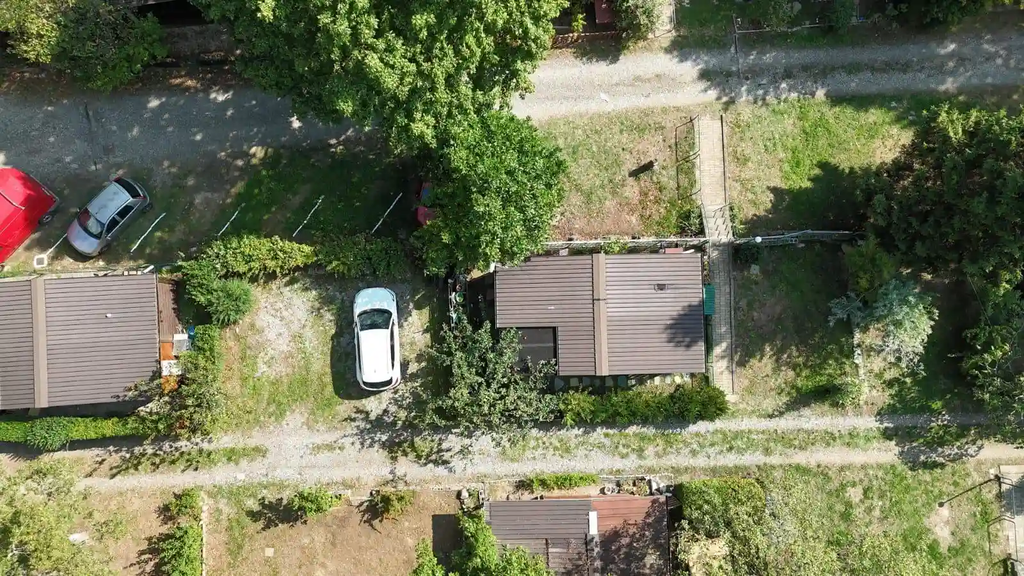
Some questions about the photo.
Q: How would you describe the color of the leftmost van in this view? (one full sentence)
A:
The color of the leftmost van is red.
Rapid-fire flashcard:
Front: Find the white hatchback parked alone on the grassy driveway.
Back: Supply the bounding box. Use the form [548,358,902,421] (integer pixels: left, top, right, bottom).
[348,287,404,390]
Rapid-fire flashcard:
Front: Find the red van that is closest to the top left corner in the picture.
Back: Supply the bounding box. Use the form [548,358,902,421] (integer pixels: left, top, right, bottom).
[0,168,57,270]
